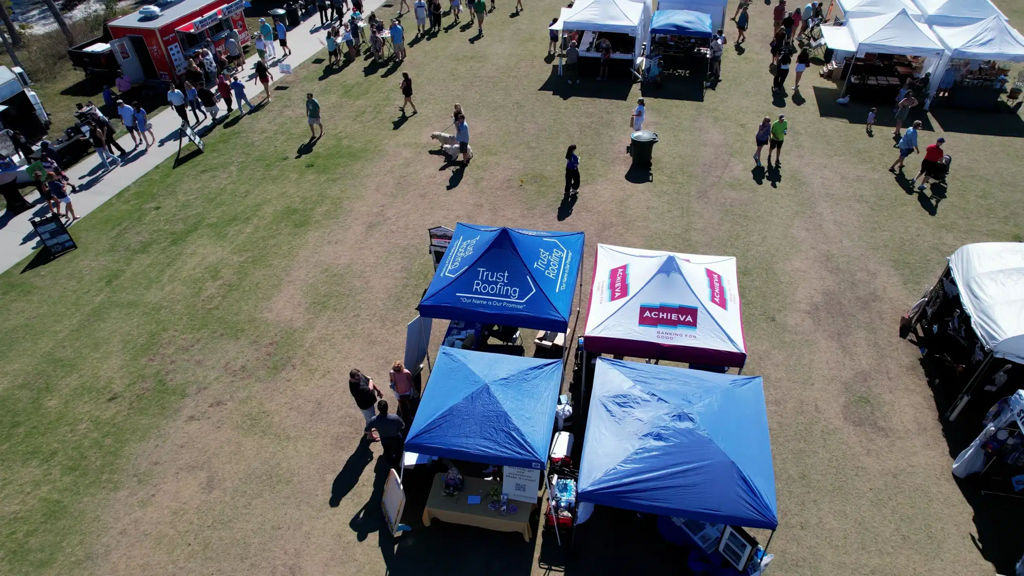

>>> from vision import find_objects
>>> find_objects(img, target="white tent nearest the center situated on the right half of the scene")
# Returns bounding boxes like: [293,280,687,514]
[578,244,747,417]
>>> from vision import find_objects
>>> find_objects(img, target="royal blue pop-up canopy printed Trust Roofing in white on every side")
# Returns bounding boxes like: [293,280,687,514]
[420,223,585,401]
